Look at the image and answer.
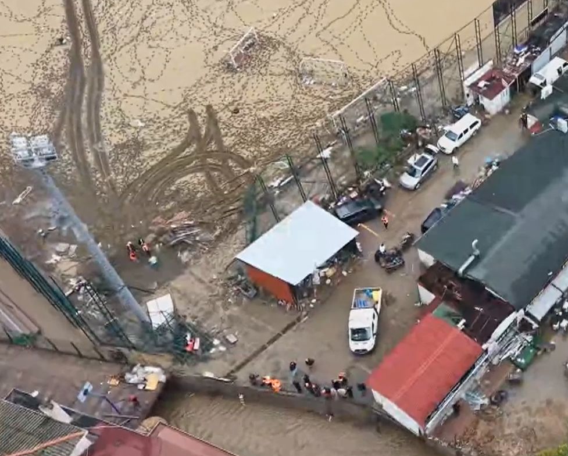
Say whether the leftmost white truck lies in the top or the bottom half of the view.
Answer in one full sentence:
Seen from above, the leftmost white truck lies in the bottom half of the view.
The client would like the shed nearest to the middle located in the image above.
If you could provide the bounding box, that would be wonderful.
[235,201,361,305]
